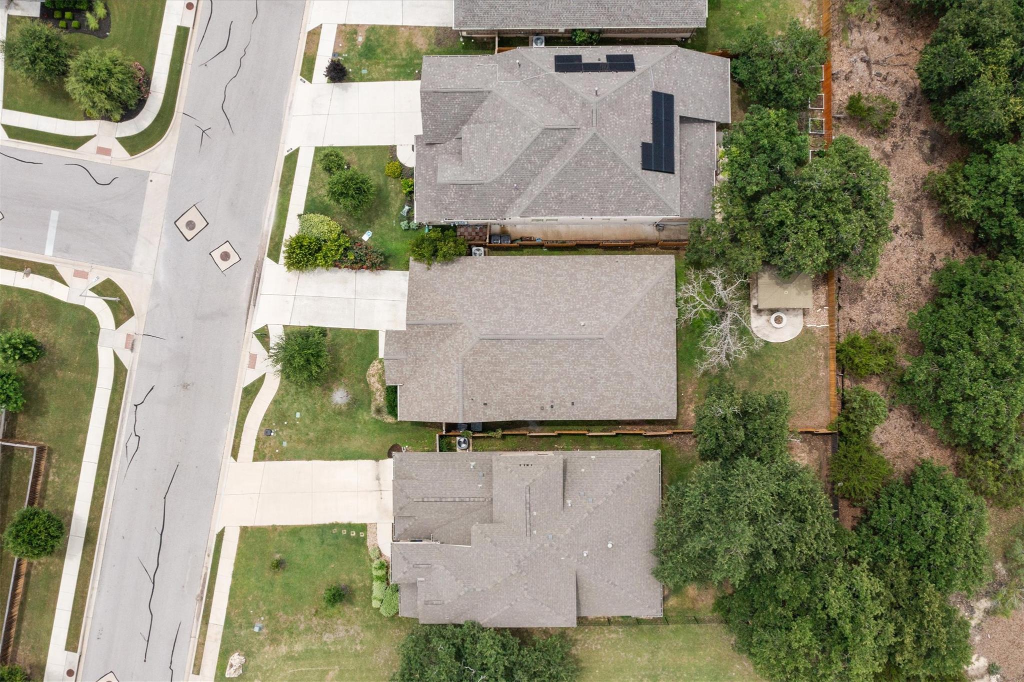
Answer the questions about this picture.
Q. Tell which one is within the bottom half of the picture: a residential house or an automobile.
residential house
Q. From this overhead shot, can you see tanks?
No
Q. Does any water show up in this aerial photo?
No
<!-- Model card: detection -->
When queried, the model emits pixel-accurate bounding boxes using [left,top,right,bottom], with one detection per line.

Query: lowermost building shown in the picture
[389,449,664,628]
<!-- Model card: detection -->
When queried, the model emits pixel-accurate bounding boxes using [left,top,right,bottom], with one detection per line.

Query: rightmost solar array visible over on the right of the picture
[641,90,674,172]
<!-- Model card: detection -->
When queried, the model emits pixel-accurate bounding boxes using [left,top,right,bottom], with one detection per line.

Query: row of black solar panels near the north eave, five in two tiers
[555,54,636,73]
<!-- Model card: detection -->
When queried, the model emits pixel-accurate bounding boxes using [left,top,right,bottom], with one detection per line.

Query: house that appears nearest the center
[385,254,678,422]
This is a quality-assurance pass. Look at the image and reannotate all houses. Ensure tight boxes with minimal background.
[415,44,733,225]
[389,449,664,628]
[385,254,678,422]
[452,0,709,40]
